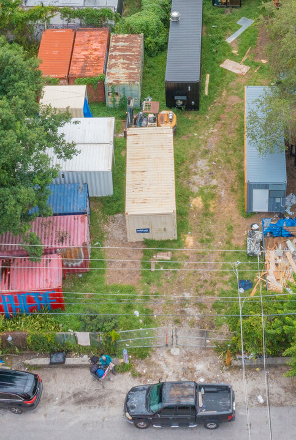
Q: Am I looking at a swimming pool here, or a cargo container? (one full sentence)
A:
The one in the frame is a cargo container.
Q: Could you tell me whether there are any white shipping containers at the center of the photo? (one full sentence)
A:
Yes, the scene does show a white shipping container at the center of the photo.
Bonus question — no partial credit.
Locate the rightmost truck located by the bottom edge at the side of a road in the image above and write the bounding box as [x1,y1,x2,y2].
[124,379,236,427]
